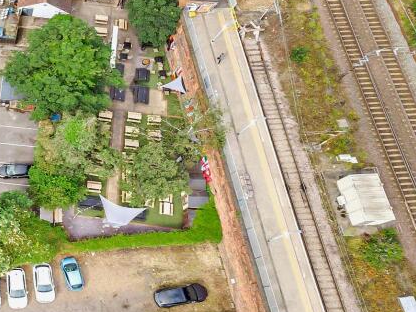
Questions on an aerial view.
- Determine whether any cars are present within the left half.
Yes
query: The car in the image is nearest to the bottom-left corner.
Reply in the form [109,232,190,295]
[6,268,29,309]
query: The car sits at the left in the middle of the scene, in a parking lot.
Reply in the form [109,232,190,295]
[0,161,34,180]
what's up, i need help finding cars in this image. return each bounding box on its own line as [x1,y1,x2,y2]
[6,268,29,309]
[33,263,55,304]
[152,282,210,311]
[60,256,83,292]
[0,161,34,180]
